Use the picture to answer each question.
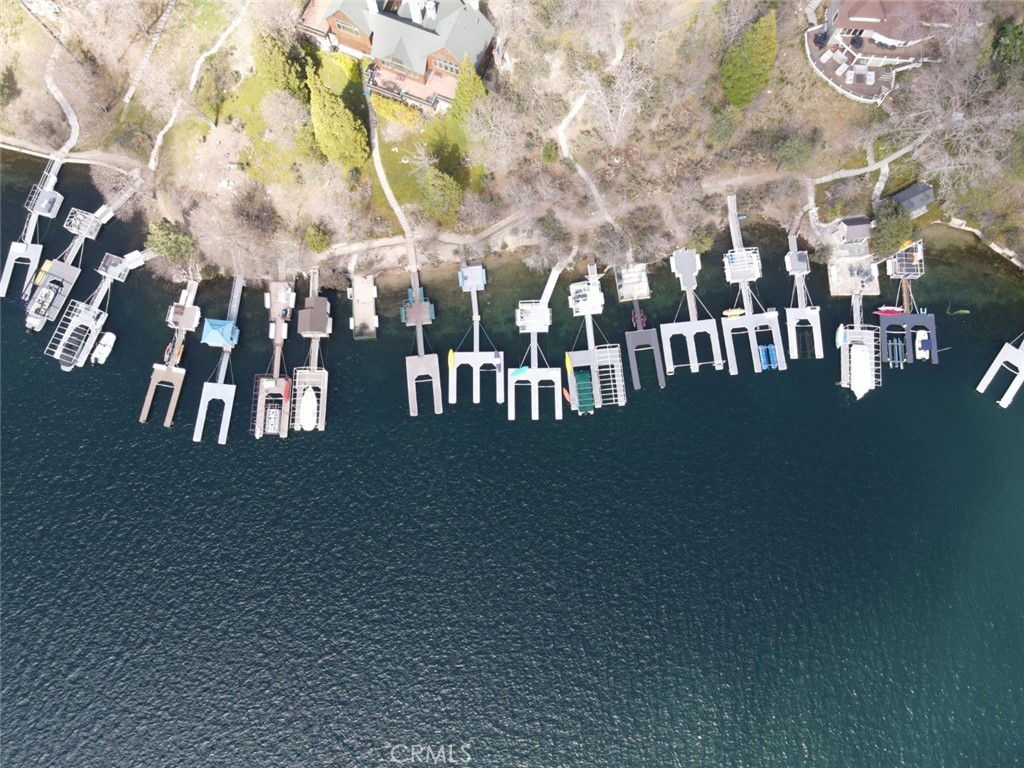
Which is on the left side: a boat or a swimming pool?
boat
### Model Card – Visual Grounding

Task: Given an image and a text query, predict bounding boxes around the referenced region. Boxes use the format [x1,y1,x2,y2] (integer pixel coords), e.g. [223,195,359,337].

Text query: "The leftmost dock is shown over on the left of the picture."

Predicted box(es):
[0,153,68,301]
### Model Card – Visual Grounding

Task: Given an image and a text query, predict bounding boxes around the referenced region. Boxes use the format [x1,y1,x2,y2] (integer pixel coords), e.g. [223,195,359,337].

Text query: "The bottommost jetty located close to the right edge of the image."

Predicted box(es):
[975,327,1024,409]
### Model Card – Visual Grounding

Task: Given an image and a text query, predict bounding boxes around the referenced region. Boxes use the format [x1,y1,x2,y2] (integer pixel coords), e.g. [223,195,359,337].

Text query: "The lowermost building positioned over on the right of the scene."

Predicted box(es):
[833,217,873,250]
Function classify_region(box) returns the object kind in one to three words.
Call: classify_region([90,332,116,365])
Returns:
boat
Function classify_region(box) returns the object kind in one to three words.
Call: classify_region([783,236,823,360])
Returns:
pier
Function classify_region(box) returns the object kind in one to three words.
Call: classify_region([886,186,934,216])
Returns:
shed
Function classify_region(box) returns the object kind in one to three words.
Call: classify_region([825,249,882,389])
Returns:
pier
